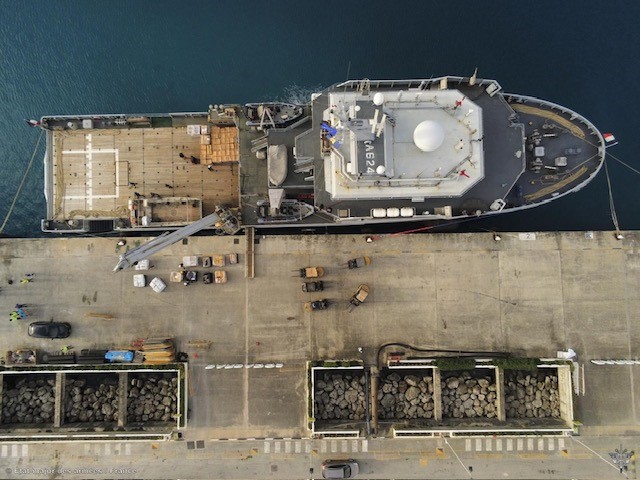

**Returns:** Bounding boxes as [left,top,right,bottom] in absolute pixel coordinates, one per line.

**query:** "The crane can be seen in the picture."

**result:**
[114,198,251,272]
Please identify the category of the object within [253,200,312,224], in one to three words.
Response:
boat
